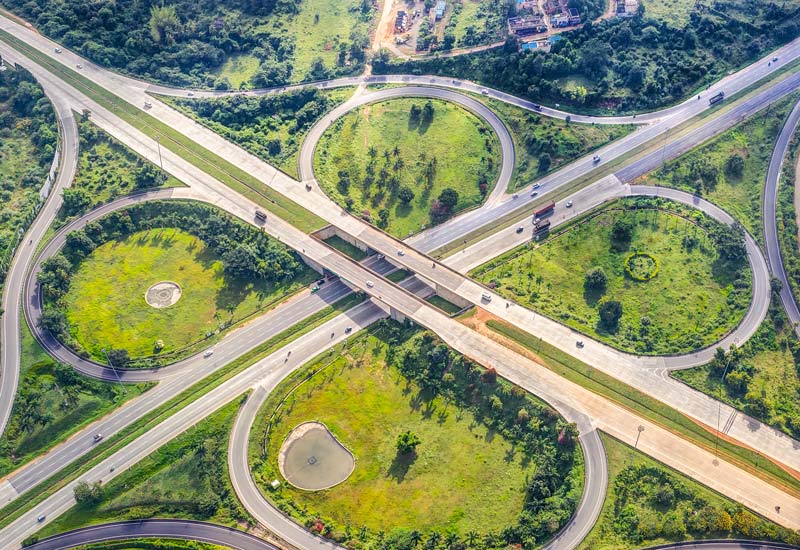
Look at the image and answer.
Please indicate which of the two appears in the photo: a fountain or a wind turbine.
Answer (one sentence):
Of the two, only a fountain appears.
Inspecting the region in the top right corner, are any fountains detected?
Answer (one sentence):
No, the scene shows no fountain in the top right corner.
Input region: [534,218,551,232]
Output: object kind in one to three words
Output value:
vehicle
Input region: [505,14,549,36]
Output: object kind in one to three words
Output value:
house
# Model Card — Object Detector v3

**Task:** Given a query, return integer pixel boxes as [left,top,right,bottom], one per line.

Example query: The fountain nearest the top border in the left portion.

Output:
[143,277,182,308]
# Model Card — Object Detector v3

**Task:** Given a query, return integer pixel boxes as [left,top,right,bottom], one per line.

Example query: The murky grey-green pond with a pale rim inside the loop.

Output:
[277,420,355,492]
